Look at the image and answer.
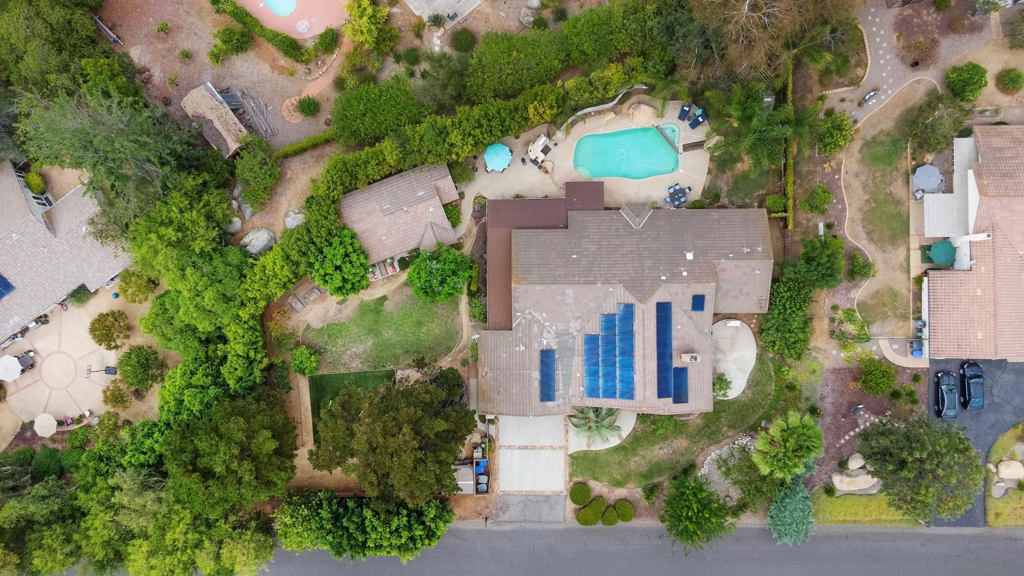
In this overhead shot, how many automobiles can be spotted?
2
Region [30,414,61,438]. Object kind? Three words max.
umbrella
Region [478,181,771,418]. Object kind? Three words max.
house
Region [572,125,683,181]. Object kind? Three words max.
swimming pool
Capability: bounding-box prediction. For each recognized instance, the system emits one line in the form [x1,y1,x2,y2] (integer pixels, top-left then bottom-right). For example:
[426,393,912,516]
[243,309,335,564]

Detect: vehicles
[932,369,959,419]
[957,360,985,410]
